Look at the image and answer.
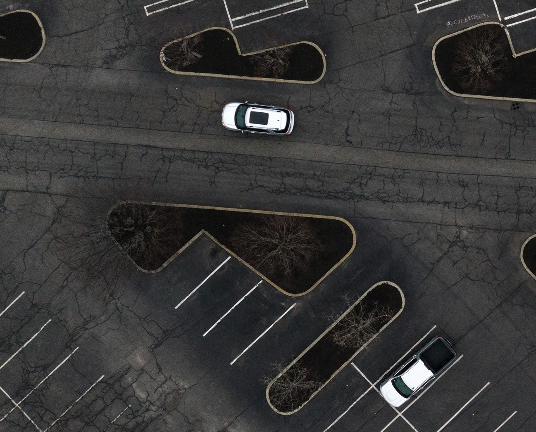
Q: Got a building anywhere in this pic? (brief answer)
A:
No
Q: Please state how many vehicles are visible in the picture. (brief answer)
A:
2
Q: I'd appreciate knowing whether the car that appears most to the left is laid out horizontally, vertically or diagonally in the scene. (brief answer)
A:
horizontally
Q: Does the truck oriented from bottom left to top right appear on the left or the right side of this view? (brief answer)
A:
right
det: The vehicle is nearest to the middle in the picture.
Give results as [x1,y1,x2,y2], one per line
[222,100,295,135]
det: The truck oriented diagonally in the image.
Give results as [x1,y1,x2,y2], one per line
[383,334,458,408]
